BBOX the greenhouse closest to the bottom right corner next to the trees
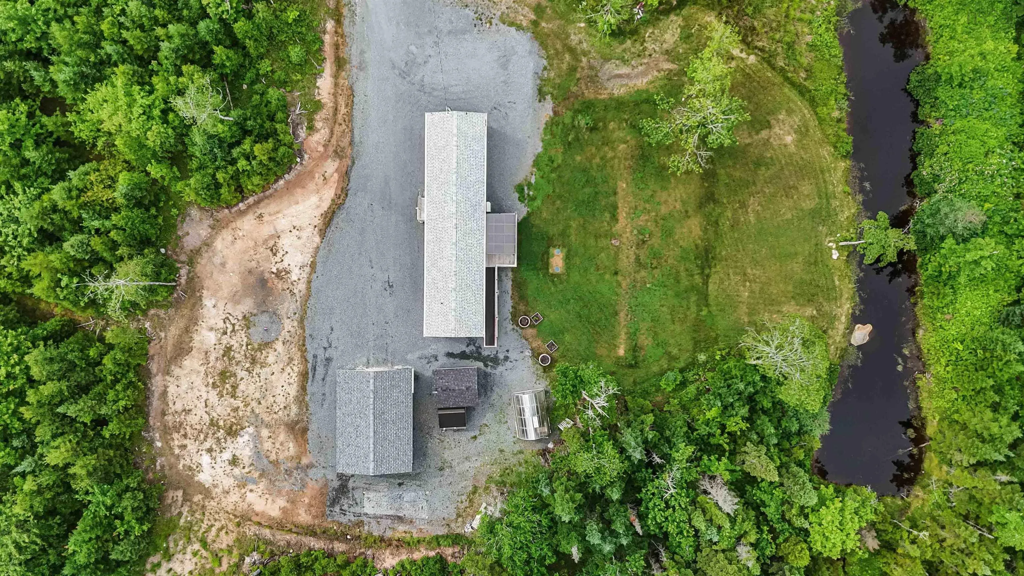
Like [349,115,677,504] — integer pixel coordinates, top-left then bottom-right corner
[512,389,550,441]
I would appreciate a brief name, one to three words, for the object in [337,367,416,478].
building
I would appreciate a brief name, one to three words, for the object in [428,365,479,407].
shed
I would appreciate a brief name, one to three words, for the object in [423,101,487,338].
house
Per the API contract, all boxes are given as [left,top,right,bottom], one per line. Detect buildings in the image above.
[337,367,416,478]
[428,365,479,407]
[423,101,487,338]
[512,389,550,441]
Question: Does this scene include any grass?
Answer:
Yes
